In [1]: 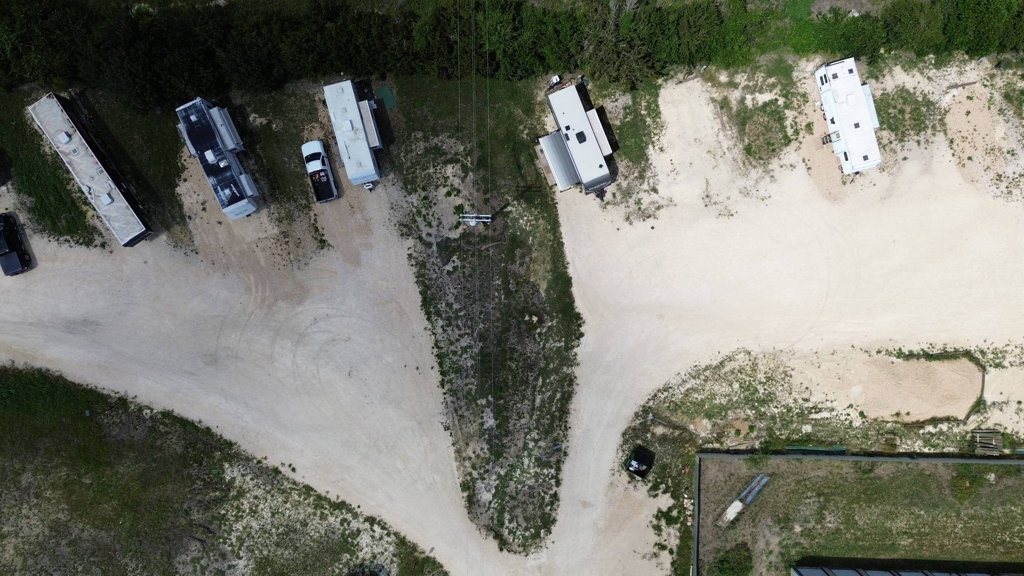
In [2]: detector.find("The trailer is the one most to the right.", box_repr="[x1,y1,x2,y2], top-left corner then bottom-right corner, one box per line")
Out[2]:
[814,57,881,177]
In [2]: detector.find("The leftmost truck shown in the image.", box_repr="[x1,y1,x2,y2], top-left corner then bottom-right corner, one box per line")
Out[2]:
[0,206,28,276]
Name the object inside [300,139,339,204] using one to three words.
truck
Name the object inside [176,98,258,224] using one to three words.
trailer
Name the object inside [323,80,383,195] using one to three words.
trailer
